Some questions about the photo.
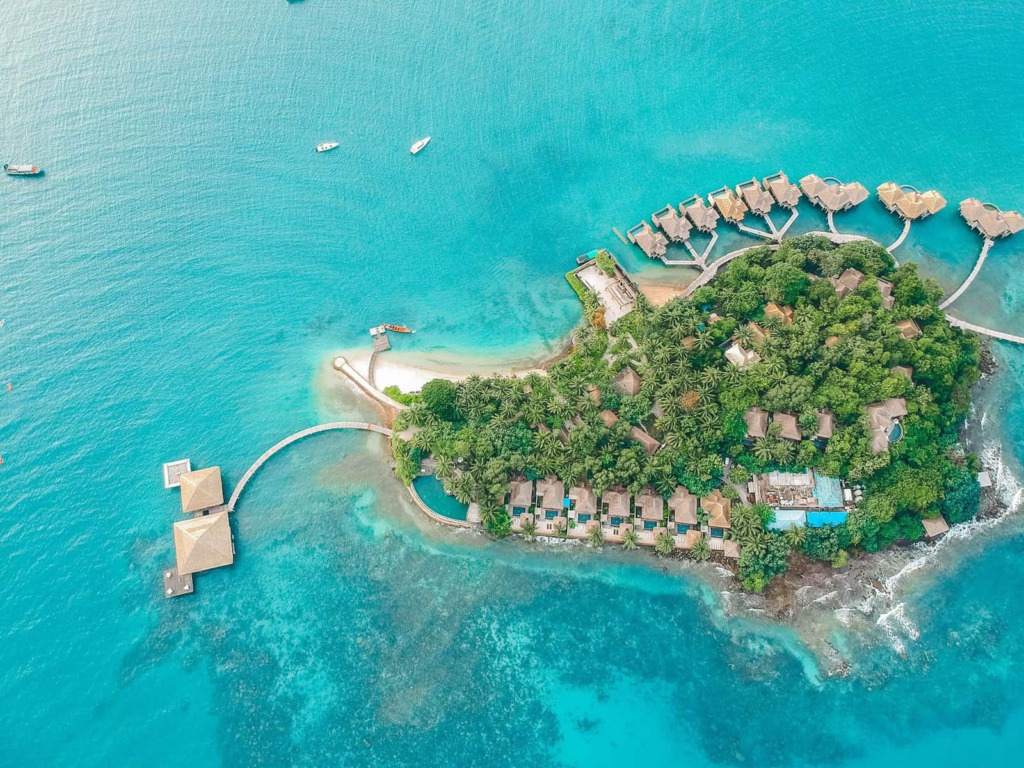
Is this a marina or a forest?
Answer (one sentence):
The area seen from above is a marina.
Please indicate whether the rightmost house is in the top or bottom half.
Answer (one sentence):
The rightmost house sits in the top half of the picture.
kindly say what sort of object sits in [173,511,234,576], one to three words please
building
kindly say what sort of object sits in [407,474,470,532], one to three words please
swimming pool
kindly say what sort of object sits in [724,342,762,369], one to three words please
house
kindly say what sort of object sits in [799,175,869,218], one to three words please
house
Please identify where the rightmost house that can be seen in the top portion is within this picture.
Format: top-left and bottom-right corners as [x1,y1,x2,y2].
[952,200,1024,243]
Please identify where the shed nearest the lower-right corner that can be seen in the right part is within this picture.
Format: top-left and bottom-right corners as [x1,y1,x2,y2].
[920,514,950,538]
